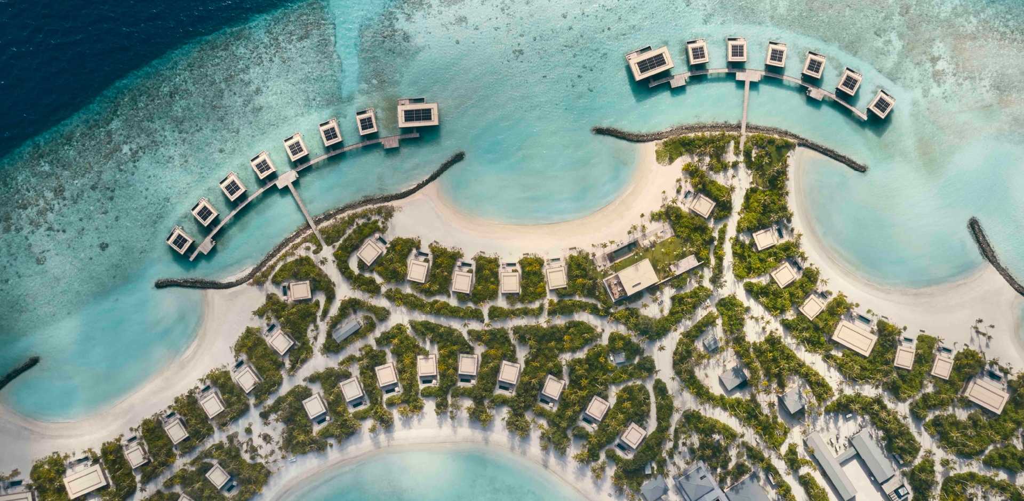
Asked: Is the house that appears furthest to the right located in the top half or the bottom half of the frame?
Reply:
bottom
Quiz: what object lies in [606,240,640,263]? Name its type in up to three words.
swimming pool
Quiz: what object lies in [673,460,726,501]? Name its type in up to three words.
building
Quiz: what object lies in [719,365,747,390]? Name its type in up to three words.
shed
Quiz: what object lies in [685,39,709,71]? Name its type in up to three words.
house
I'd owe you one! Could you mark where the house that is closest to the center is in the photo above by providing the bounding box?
[500,261,521,293]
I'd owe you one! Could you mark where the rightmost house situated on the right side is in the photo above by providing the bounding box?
[961,368,1011,414]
